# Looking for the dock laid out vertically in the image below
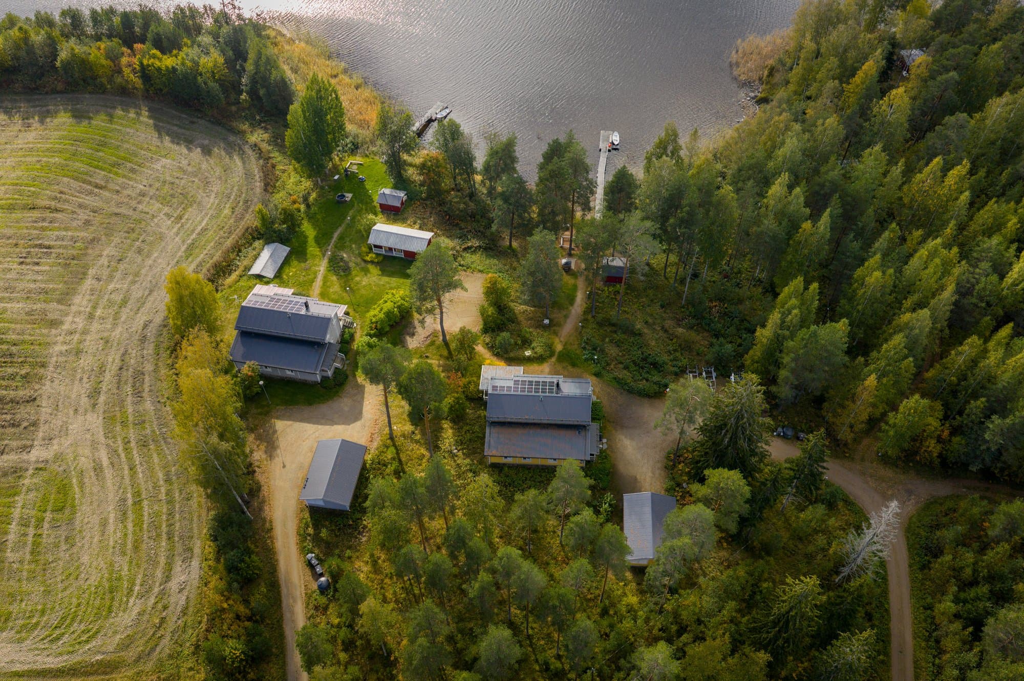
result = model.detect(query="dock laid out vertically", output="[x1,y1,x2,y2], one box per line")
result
[595,131,613,216]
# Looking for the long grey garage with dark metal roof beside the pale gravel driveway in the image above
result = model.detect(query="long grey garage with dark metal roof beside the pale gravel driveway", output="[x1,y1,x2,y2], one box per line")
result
[297,439,366,515]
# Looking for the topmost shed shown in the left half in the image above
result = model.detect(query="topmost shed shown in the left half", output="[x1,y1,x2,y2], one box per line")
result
[377,192,409,218]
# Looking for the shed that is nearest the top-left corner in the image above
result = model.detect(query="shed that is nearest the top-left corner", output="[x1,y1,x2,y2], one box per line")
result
[248,243,291,281]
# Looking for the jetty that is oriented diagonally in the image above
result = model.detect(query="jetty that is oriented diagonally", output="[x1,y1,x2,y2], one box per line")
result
[411,103,447,136]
